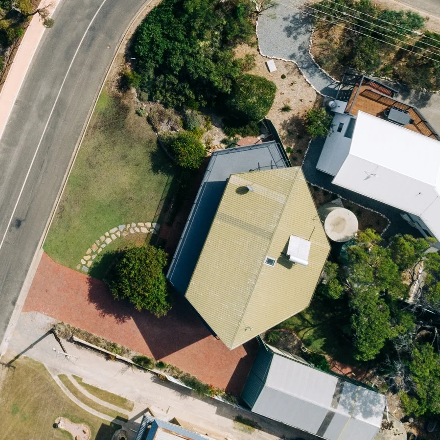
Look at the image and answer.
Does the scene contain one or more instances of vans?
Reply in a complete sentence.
No, I can't see a single van in this photo.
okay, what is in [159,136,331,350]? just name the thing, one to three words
house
